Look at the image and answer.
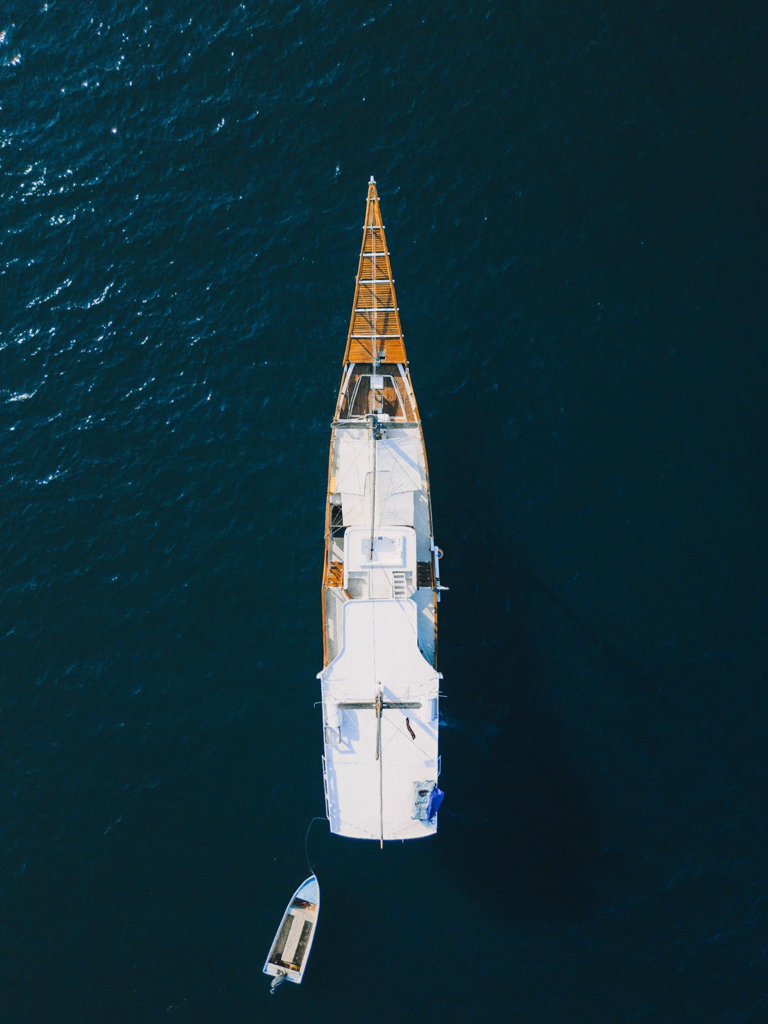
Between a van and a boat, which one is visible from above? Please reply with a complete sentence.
The one in the frame is a boat.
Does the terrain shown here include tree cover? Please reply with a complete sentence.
No, the picture contains no tree cover.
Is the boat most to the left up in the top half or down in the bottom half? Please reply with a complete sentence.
The boat most to the left is in the bottom half of the image.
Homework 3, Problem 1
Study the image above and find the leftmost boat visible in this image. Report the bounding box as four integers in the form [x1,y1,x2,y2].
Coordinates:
[262,872,320,983]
